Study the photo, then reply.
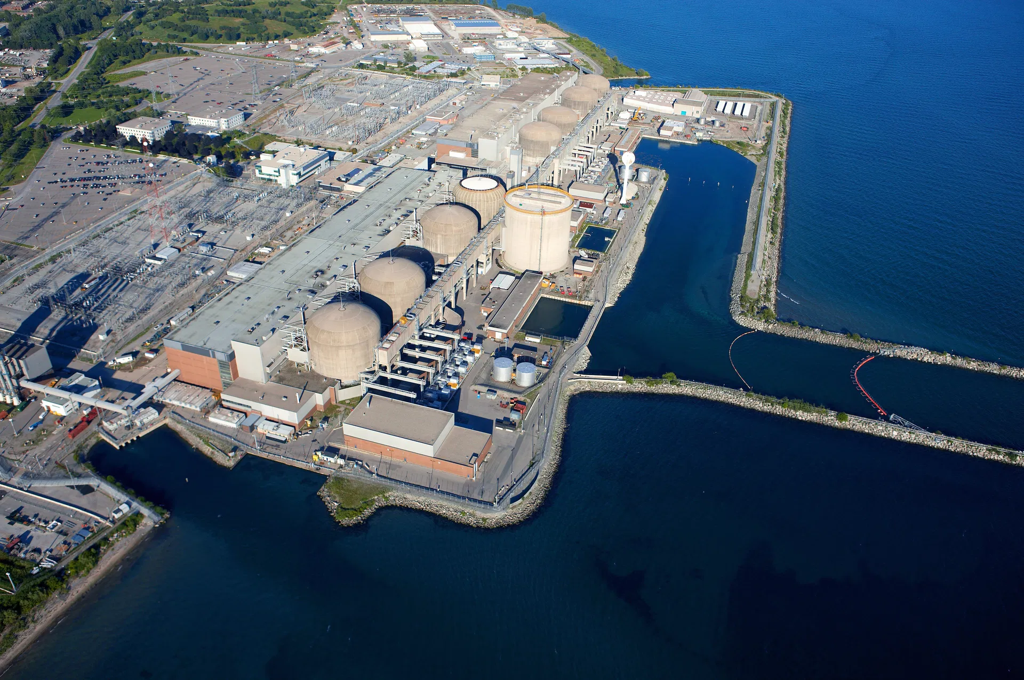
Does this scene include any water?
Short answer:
Yes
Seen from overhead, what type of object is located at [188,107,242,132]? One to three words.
building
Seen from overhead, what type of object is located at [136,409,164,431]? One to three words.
shed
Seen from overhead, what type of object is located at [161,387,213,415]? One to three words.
shed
